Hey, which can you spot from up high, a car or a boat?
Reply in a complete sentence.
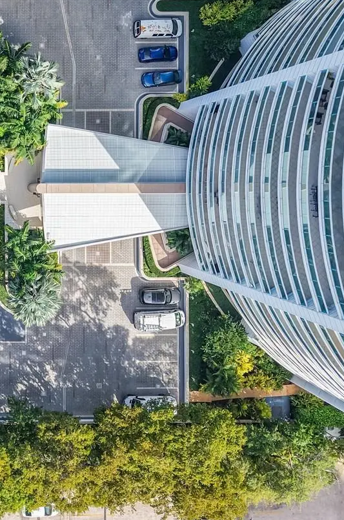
Looking from above, you can make out a car.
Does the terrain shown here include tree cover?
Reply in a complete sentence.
Yes, tree cover shows up in the scene.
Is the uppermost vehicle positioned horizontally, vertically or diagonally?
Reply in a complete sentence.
The uppermost vehicle is laid out horizontally.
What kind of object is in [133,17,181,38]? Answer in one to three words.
vehicle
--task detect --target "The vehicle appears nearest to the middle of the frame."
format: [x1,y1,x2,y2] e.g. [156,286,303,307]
[139,287,178,306]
